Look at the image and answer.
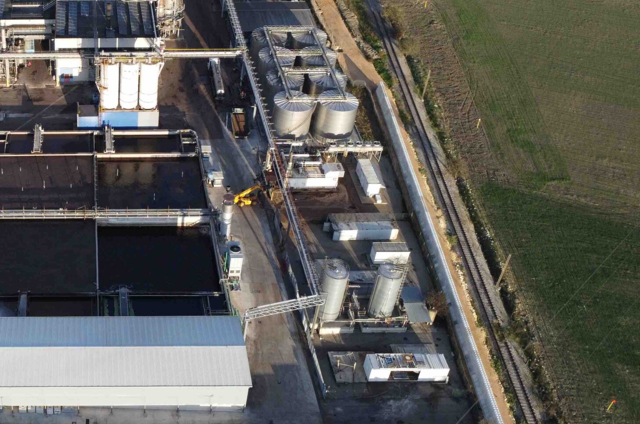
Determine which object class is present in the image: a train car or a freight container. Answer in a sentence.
Visible in the photo is a freight container.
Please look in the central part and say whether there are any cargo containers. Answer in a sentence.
Yes, a cargo container appears in the central part.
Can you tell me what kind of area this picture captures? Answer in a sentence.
It's an industrial area.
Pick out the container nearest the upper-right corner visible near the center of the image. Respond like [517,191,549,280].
[355,157,386,197]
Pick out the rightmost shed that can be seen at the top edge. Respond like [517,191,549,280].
[232,1,319,46]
